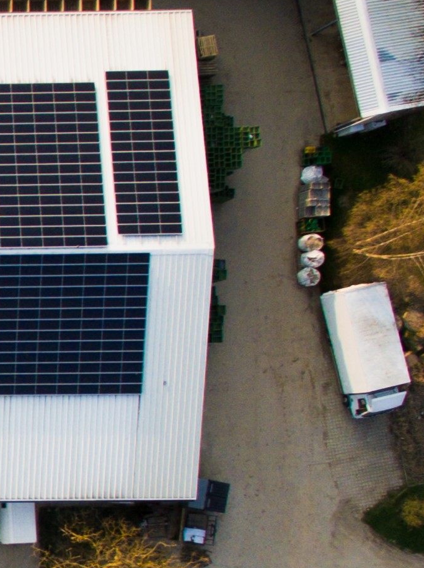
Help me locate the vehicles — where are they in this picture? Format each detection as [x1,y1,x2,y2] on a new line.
[0,502,34,543]
[318,283,404,421]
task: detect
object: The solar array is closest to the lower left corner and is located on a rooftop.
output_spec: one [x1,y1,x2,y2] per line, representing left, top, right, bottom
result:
[0,254,150,394]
